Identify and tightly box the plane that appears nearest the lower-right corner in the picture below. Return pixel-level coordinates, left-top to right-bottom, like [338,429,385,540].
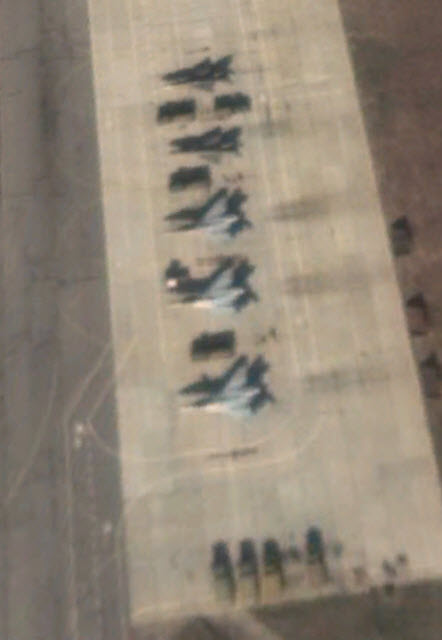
[178,369,276,419]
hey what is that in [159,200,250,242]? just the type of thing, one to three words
airplane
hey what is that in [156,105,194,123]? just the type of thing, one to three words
vehicle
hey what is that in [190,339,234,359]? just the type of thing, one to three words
vehicle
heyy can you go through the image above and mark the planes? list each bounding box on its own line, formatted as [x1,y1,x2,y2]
[160,61,231,88]
[167,270,260,315]
[168,130,240,159]
[178,369,276,419]
[159,200,250,242]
